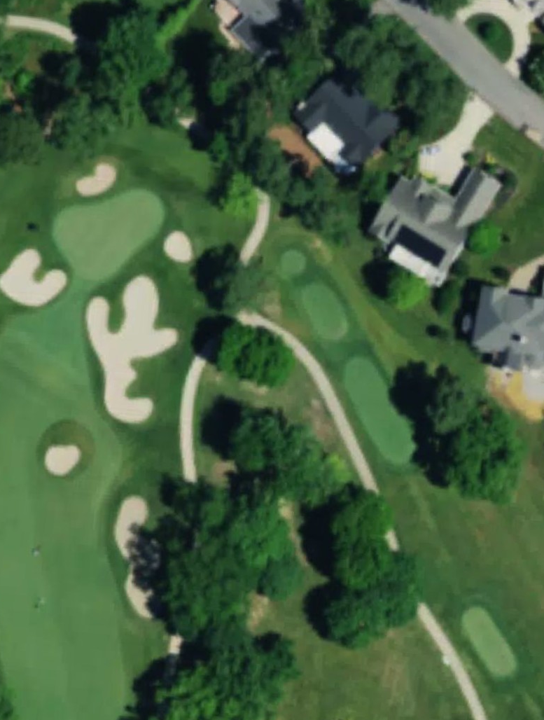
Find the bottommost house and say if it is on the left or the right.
right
